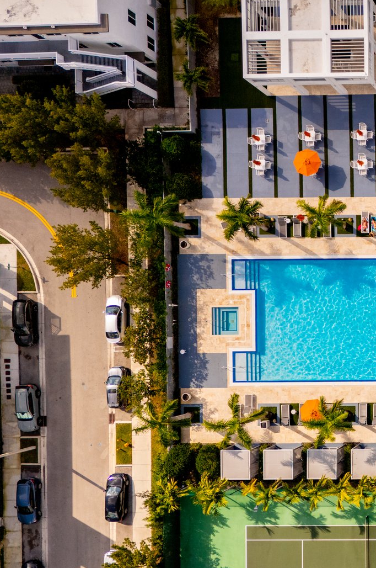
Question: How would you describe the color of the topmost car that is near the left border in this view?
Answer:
black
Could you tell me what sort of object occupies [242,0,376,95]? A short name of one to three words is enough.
building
